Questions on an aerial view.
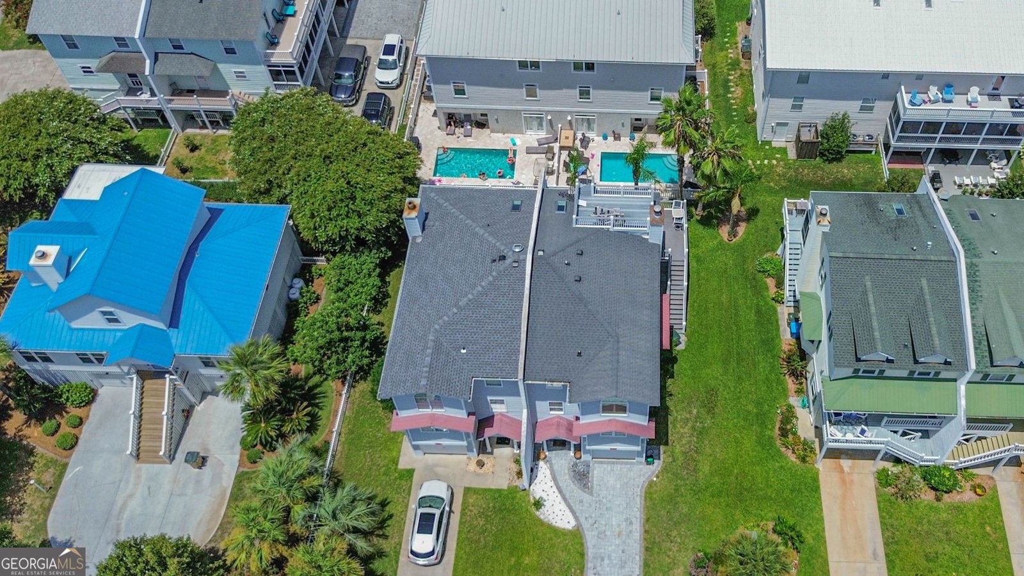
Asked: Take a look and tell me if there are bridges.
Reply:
No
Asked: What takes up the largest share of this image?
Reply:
buildings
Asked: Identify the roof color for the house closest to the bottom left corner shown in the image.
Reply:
blue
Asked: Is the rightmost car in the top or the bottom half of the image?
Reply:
bottom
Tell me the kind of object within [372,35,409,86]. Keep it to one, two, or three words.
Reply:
car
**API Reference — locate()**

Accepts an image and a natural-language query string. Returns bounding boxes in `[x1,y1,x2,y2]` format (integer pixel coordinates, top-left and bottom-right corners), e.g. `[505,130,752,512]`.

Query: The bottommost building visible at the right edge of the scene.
[777,178,1024,471]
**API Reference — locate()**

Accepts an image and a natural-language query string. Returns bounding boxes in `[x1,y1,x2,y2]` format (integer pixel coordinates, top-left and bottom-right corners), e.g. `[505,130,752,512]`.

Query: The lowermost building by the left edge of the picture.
[0,164,303,464]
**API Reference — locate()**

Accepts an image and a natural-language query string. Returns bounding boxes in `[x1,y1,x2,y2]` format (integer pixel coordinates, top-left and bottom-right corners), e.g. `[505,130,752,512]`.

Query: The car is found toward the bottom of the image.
[410,480,457,566]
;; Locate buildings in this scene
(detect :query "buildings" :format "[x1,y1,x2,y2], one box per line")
[378,160,690,487]
[755,0,1024,170]
[24,0,348,135]
[0,164,303,464]
[413,0,699,134]
[777,178,1024,471]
